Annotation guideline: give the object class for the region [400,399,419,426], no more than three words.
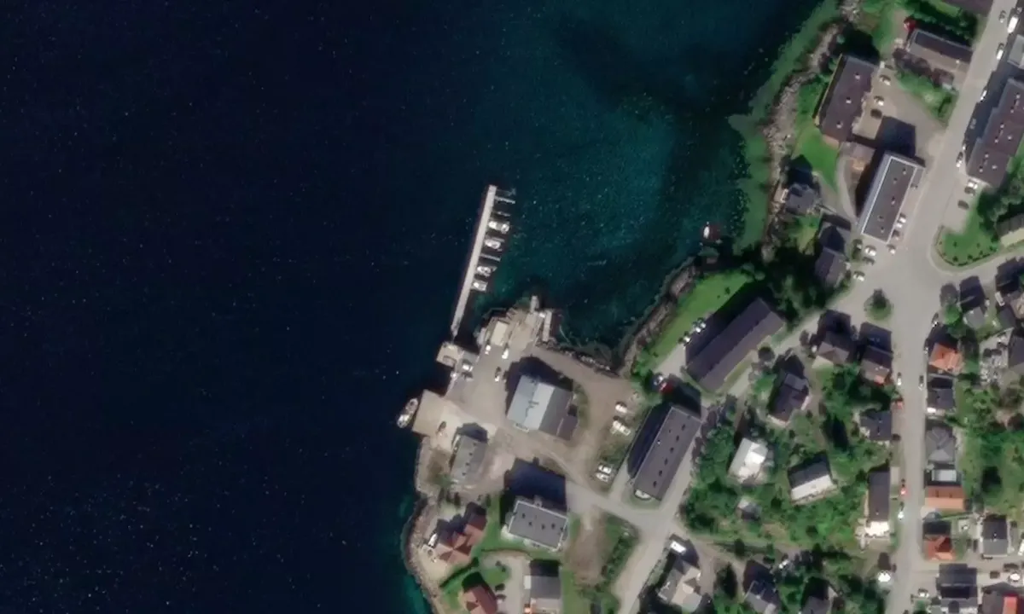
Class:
boat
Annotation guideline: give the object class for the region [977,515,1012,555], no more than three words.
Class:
house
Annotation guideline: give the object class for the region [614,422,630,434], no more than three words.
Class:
vehicle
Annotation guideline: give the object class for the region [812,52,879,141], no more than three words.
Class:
building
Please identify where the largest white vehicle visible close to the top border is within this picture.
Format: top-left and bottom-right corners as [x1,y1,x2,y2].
[1008,15,1020,35]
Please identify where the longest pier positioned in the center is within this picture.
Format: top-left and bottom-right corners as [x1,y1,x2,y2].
[452,185,515,334]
